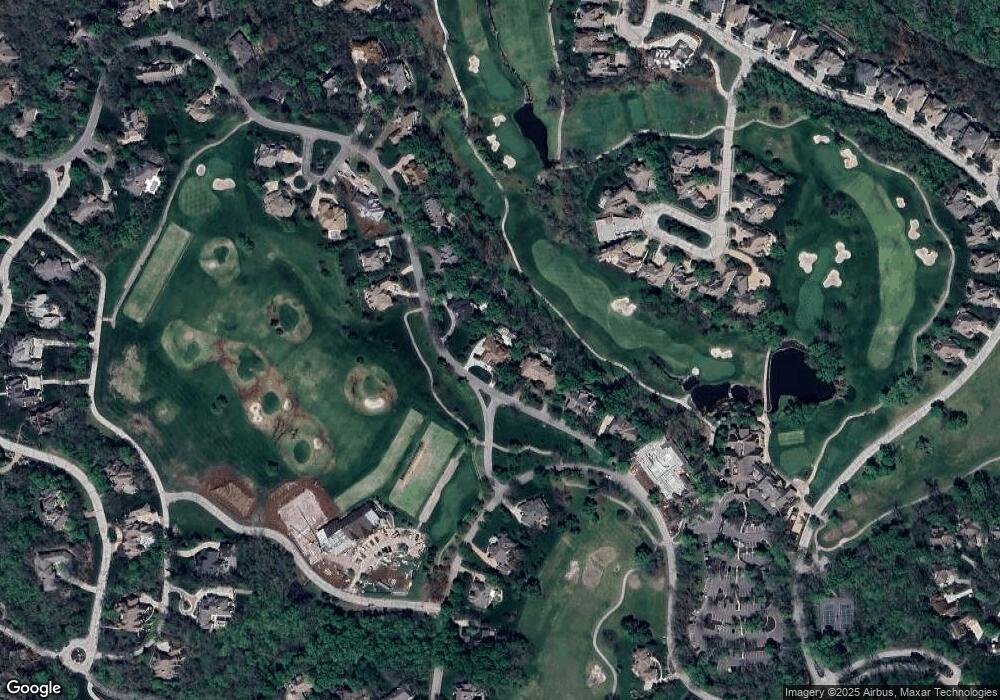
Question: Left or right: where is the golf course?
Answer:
right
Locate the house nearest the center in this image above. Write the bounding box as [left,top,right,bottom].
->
[479,334,507,366]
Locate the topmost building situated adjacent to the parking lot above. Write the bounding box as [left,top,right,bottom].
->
[721,427,798,513]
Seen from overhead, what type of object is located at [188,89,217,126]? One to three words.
house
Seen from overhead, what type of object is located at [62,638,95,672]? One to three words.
roundabout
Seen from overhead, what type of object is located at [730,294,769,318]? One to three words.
house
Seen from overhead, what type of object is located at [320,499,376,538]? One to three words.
building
